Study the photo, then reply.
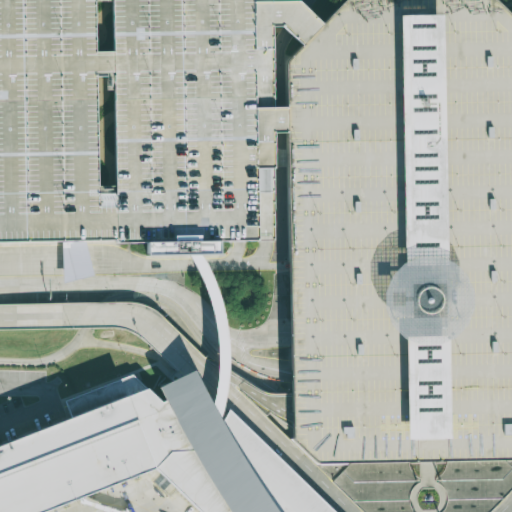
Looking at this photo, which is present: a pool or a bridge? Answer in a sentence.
Looking from above, you can make out a bridge.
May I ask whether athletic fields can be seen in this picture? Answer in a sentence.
No, I can see no athletic field in this picture.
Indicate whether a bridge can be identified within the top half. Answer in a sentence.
Yes, the scene does show a bridge within the top half.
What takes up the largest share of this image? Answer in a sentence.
Most of the picture is covered by buildings.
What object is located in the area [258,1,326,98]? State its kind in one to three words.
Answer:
bridge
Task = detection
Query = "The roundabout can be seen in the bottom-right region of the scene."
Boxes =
[408,462,448,512]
